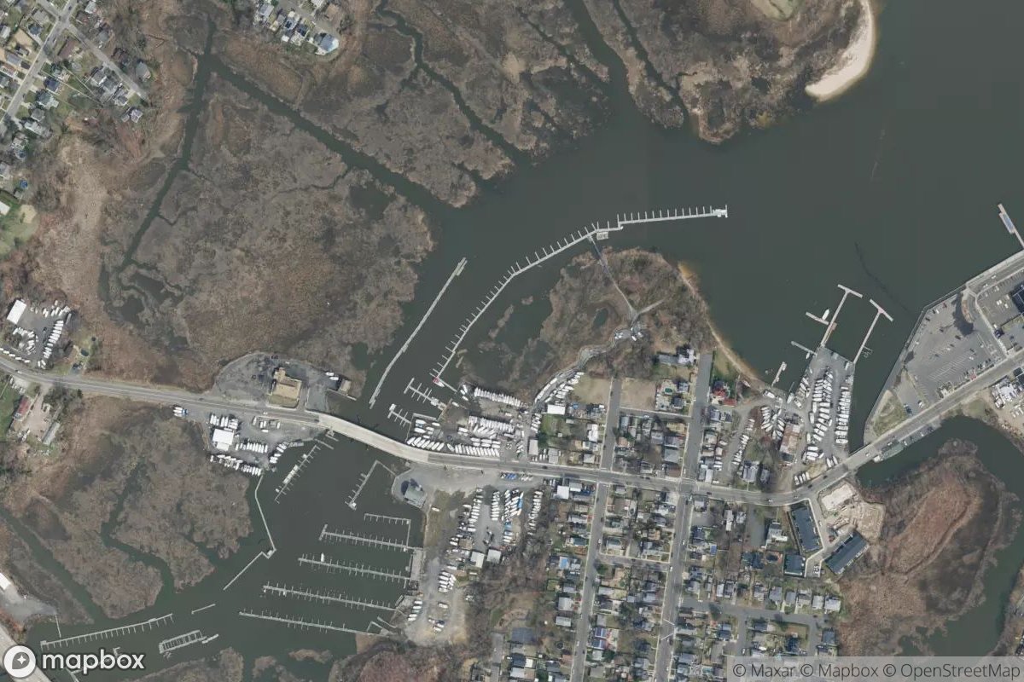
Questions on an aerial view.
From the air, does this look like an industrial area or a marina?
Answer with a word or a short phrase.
marina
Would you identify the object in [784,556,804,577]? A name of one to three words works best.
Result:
building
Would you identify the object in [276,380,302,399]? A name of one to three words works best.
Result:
building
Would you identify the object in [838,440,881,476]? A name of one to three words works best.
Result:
bridge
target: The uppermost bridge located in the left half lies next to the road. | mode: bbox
[318,411,431,464]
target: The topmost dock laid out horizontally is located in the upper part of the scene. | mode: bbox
[617,204,727,227]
